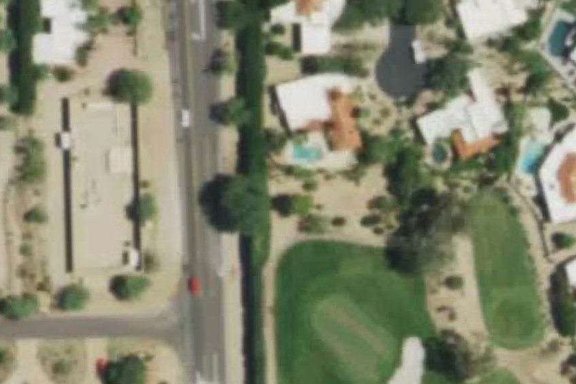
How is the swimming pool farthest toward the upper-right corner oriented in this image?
up and down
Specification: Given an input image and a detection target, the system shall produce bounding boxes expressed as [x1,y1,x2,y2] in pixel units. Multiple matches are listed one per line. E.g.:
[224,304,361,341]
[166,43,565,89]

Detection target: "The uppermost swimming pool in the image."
[549,20,570,58]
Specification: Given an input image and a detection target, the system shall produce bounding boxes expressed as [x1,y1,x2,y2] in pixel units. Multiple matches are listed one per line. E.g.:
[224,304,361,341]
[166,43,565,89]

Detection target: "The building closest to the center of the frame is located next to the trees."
[277,73,360,151]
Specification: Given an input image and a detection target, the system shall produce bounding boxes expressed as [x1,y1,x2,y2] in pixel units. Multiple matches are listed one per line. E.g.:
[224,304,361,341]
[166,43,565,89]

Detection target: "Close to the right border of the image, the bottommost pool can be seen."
[520,140,547,176]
